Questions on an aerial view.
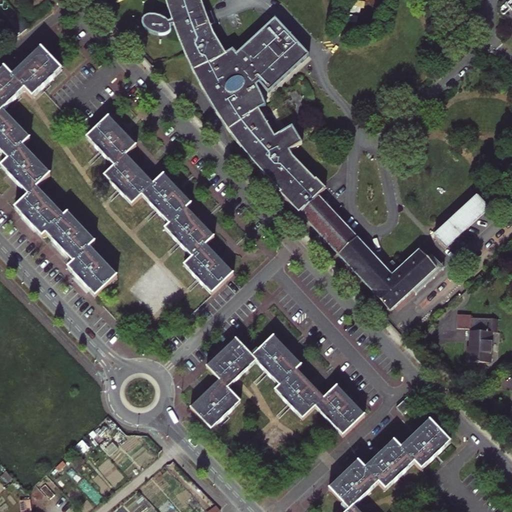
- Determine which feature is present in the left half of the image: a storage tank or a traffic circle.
traffic circle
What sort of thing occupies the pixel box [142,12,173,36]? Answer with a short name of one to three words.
building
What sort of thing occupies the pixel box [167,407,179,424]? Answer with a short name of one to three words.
vehicle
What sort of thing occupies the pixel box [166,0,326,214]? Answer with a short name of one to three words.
building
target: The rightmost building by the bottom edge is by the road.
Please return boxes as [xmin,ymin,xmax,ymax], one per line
[328,417,450,512]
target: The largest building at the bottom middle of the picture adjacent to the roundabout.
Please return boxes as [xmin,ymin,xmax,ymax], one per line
[192,333,365,436]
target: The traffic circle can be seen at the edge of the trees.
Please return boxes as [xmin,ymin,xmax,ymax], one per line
[106,358,174,428]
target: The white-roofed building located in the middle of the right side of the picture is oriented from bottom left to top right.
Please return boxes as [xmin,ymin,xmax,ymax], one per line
[434,194,486,248]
